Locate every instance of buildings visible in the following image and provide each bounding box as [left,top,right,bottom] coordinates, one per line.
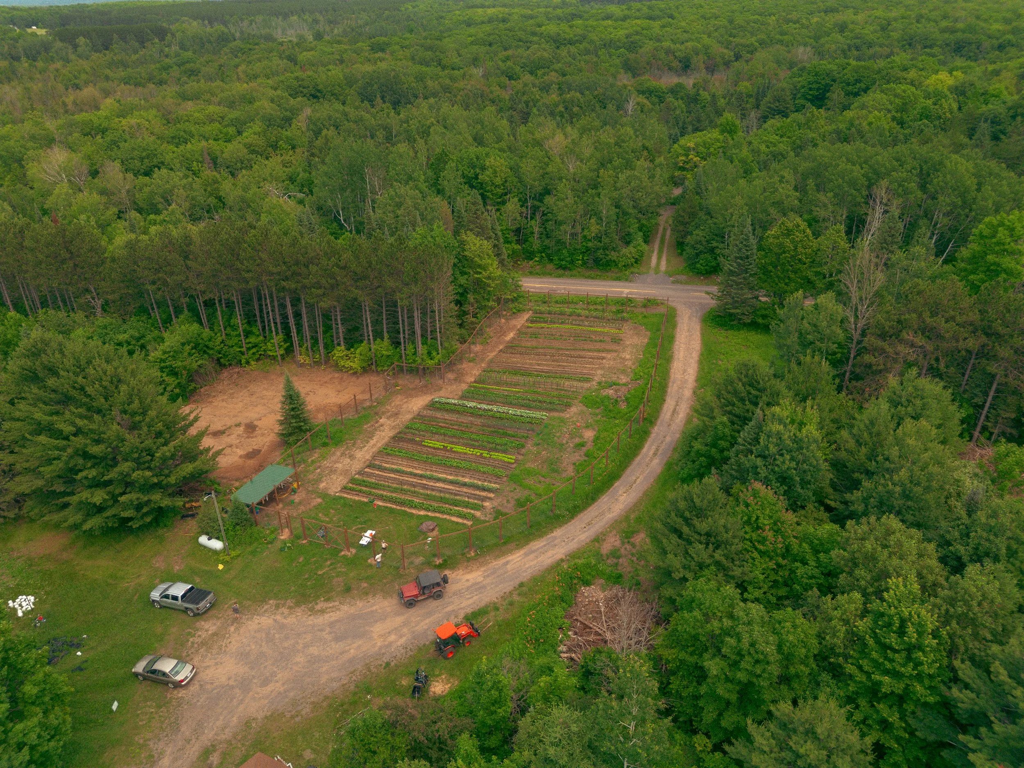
[240,752,294,768]
[234,456,301,523]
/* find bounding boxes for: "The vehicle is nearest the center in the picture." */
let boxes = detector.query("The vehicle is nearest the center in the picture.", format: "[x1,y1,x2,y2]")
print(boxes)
[393,569,448,609]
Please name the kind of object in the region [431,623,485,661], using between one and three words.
work vehicle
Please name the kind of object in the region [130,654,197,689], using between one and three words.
car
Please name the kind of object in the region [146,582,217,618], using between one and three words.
truck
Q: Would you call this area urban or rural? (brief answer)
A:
rural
